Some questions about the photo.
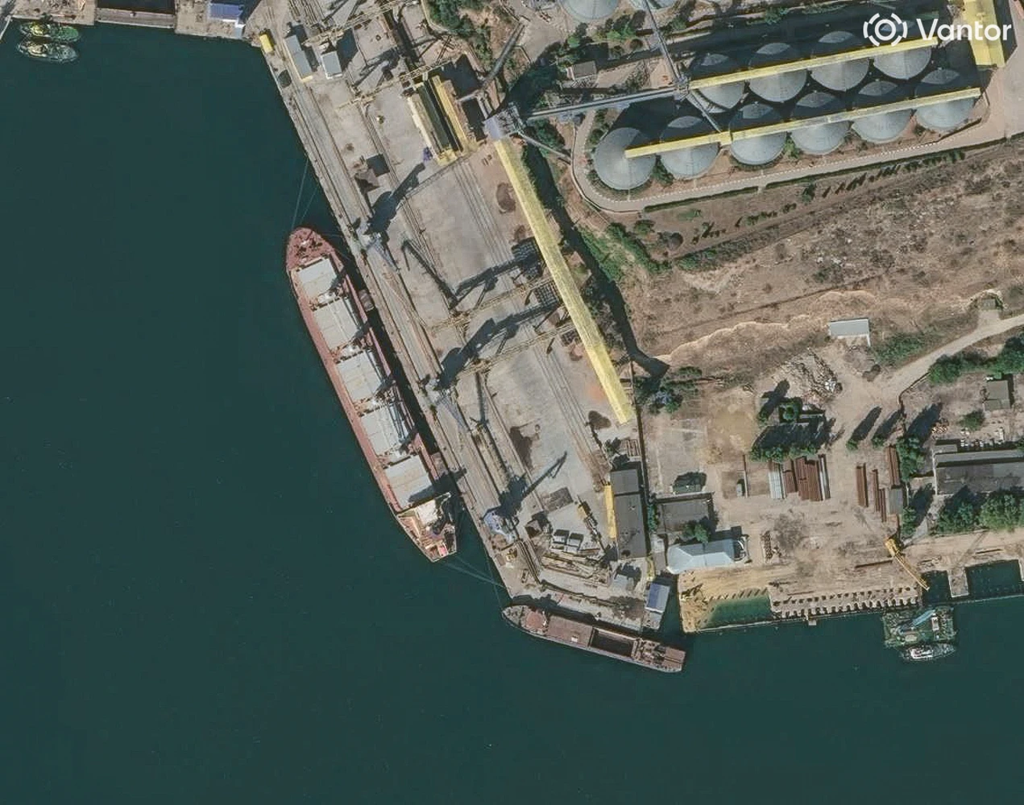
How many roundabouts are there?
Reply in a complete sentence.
The count of roundabouts is 0.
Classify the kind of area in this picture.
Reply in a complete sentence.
The area seen from above is a port.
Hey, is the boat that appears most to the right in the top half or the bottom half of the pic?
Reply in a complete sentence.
The boat that appears most to the right is in the bottom half of the image.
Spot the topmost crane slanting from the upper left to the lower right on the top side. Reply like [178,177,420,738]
[350,209,401,273]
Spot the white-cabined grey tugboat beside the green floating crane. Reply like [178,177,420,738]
[900,642,957,662]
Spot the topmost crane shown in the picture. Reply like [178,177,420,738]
[302,0,421,50]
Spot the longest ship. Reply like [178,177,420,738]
[287,227,457,562]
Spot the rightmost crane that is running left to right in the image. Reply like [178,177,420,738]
[884,609,956,646]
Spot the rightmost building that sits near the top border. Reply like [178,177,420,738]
[964,0,1005,67]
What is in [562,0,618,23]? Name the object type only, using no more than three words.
silo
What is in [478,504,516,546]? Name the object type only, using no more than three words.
crane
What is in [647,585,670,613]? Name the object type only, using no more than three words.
building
